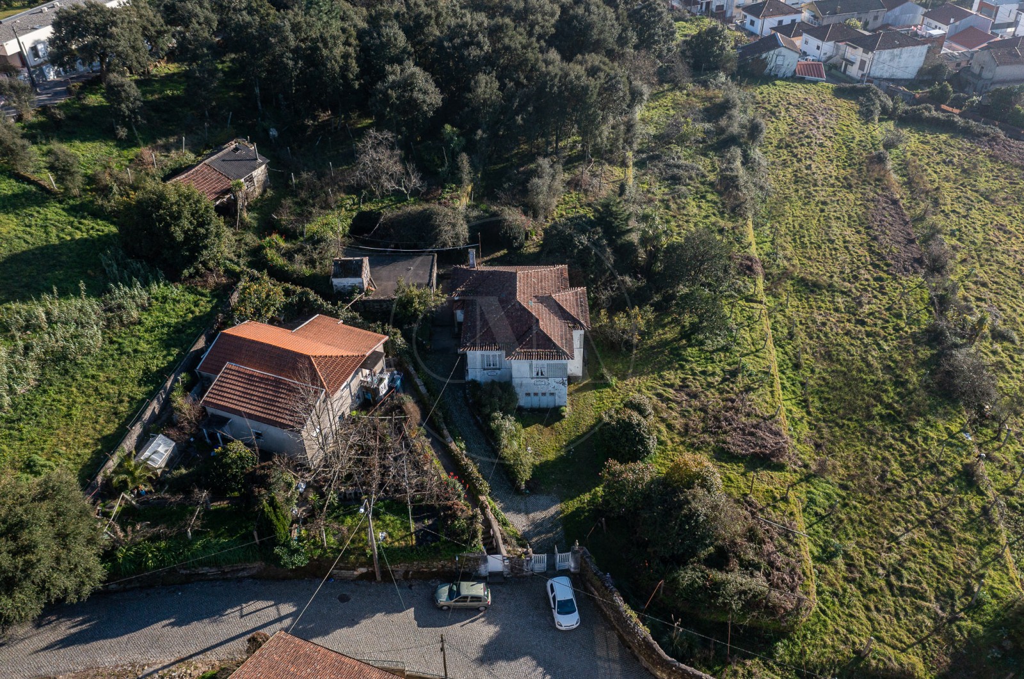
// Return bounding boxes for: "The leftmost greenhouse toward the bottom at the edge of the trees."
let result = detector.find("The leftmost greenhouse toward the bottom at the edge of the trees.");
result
[141,433,178,476]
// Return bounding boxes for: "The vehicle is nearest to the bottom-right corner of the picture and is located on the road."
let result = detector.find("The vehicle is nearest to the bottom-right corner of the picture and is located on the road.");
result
[546,574,579,630]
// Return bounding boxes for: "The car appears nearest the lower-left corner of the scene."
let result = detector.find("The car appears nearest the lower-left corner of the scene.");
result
[435,578,492,610]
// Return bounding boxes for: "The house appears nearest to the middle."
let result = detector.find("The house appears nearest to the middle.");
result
[442,249,593,410]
